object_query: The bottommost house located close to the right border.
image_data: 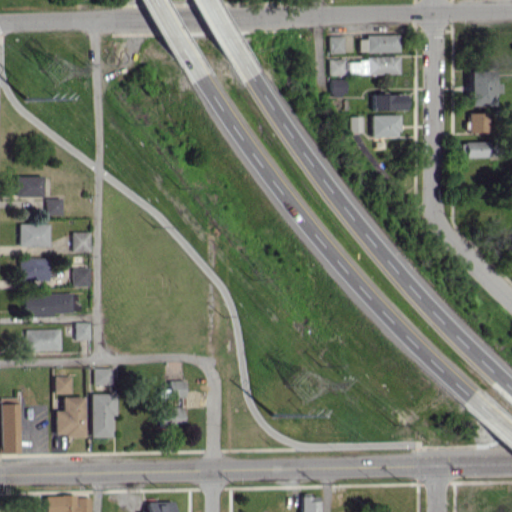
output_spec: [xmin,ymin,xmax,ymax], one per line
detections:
[463,142,494,159]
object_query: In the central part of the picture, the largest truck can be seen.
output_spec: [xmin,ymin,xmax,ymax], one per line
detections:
[284,200,306,224]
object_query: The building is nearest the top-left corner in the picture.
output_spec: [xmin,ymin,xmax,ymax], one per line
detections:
[16,176,47,197]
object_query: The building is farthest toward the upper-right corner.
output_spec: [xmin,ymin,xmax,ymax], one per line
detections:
[470,72,504,109]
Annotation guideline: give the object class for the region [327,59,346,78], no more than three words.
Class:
building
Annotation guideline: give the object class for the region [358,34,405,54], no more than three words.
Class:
house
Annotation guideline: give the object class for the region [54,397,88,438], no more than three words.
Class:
house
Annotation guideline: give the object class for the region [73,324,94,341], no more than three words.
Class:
building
